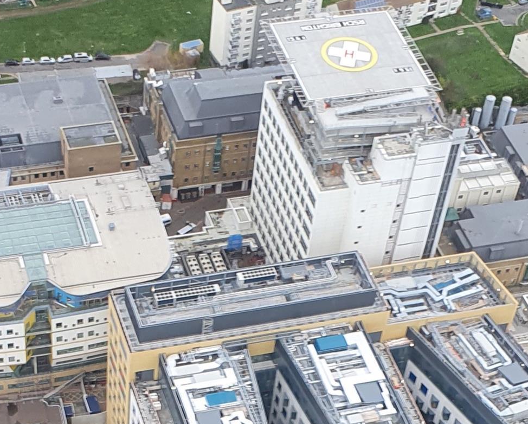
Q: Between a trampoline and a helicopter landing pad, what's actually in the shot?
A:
helicopter landing pad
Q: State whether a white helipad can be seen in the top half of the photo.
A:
Yes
